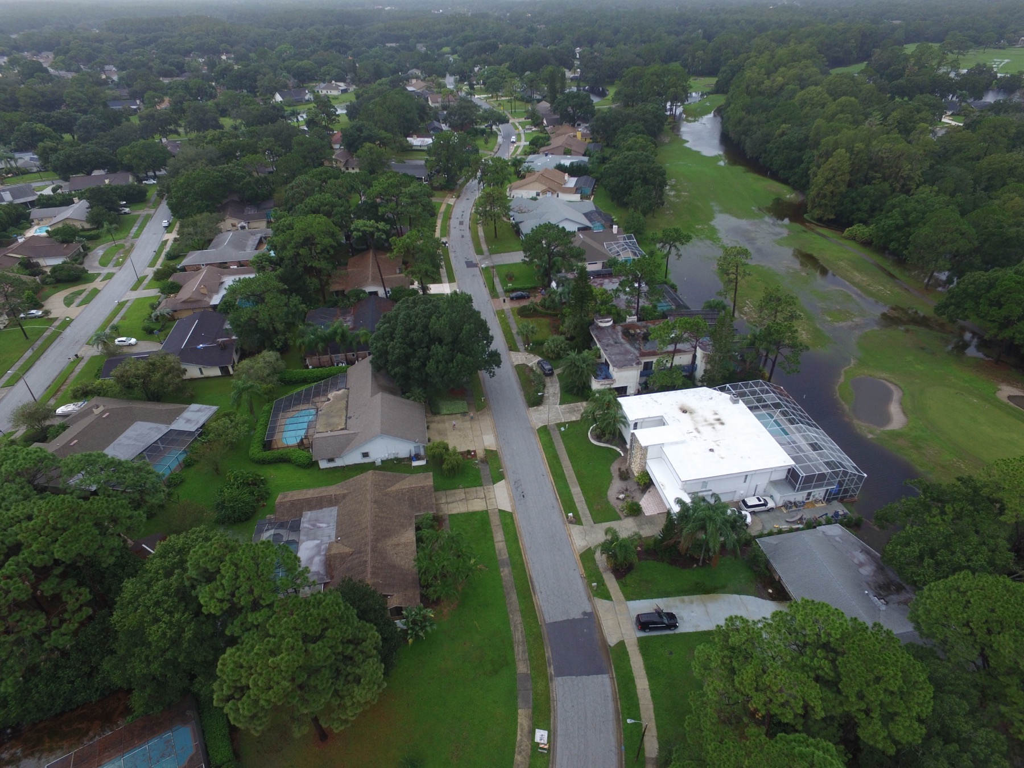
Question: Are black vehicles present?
Yes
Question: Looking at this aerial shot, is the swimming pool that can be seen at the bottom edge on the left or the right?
left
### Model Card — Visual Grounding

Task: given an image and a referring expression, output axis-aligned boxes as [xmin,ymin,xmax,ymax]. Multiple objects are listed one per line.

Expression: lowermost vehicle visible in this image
[636,603,681,632]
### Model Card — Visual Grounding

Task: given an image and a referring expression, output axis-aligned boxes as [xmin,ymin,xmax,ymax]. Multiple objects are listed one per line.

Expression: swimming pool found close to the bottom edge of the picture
[107,725,196,768]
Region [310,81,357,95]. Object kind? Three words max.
house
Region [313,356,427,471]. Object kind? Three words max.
house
